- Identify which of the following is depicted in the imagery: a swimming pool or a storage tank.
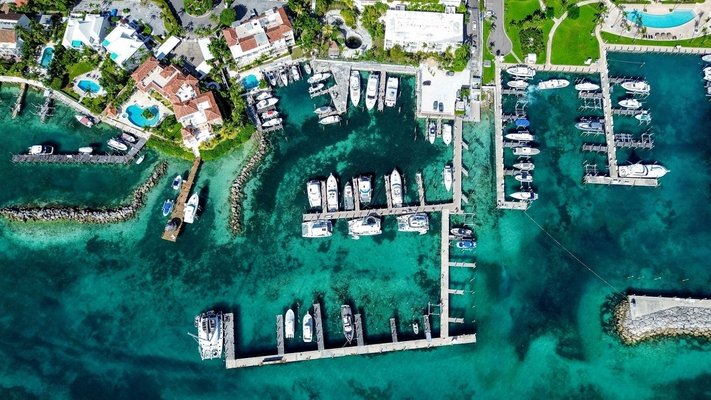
swimming pool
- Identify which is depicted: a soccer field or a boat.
boat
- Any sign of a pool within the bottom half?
No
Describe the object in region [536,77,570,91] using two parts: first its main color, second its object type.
white boat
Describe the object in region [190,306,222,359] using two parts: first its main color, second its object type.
white boat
